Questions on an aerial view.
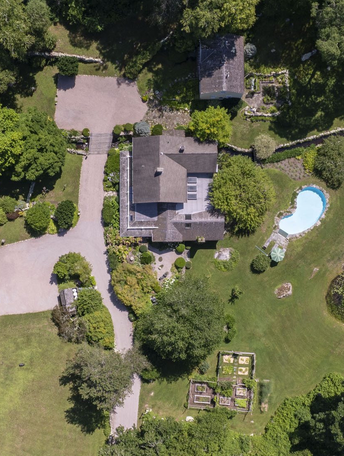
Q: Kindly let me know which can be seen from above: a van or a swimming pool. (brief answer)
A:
swimming pool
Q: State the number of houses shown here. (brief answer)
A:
2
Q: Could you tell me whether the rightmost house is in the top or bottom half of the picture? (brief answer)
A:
top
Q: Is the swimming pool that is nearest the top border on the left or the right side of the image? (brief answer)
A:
right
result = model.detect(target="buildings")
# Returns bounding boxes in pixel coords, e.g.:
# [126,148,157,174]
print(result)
[195,29,244,98]
[58,290,77,314]
[119,131,225,241]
